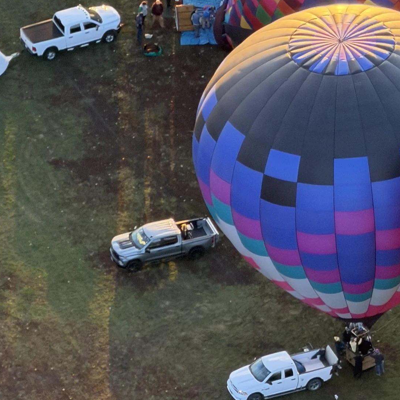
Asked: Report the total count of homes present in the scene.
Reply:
zero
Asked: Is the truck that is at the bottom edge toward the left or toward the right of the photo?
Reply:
right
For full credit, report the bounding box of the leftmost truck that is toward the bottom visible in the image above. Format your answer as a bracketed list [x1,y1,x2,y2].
[110,217,217,273]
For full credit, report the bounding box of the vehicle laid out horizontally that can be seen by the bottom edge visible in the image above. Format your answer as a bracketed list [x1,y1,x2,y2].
[228,349,336,400]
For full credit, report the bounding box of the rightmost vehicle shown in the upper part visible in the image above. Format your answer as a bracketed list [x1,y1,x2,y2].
[18,10,122,61]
